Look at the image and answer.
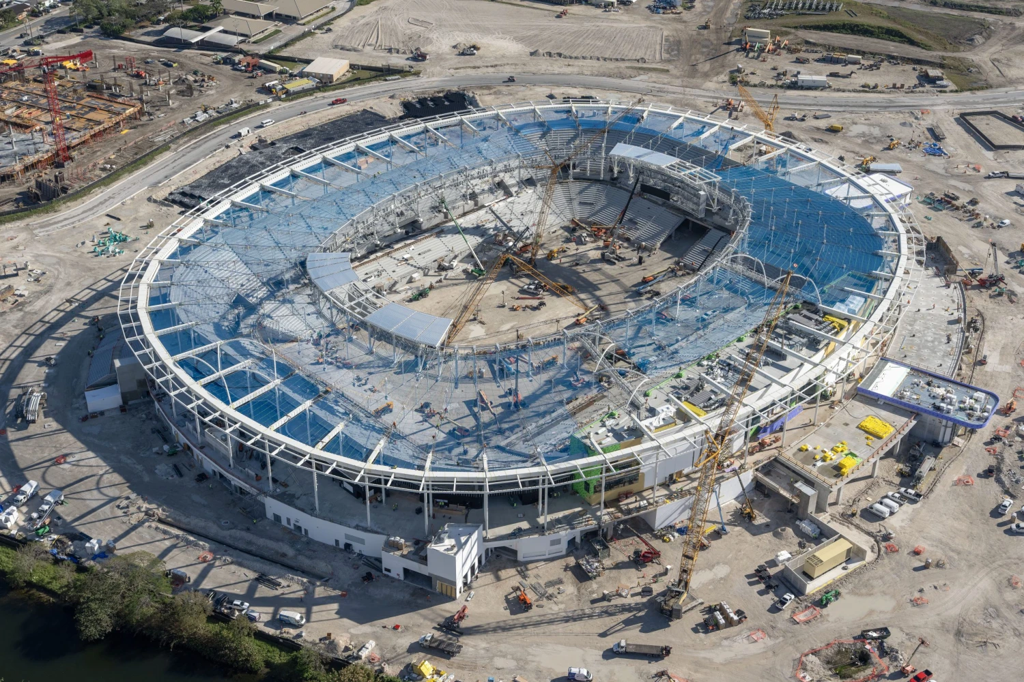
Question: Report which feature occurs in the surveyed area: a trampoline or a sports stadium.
sports stadium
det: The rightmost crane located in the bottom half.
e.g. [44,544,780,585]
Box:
[648,272,793,623]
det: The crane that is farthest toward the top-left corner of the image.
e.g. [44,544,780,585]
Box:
[0,50,94,166]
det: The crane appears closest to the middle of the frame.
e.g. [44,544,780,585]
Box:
[418,226,590,367]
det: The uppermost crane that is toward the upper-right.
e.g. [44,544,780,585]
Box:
[737,86,789,164]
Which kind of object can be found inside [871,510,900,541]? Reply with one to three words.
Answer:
work vehicle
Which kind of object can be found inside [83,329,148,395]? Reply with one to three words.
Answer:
shed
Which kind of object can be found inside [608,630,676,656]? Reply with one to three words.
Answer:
truck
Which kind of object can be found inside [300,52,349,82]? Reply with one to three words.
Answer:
building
